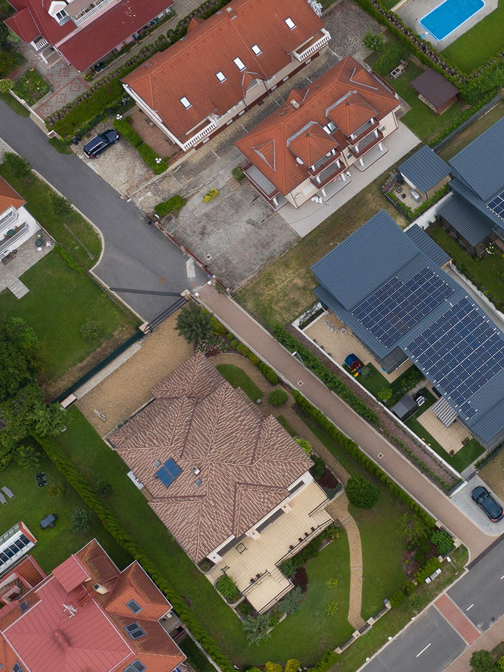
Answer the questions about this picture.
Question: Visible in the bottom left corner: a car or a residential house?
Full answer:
Visible in the bottom left corner is a residential house.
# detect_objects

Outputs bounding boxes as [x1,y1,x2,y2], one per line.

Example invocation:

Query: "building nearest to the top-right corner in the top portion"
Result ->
[411,69,459,118]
